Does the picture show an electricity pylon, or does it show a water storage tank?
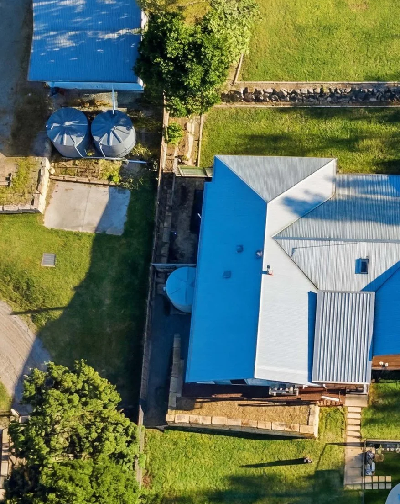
water storage tank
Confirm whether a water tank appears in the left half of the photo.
Yes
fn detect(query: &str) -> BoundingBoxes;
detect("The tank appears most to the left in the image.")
[47,109,98,158]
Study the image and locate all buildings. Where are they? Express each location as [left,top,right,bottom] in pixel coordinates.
[182,154,400,403]
[27,0,164,115]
